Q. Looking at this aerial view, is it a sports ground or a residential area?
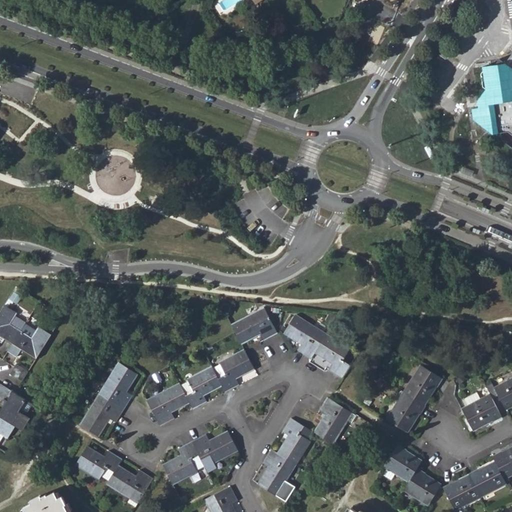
residential area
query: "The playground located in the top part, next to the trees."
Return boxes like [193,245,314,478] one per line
[90,150,142,209]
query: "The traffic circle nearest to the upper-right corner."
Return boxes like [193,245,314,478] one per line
[306,128,382,206]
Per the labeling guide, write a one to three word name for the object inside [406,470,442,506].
house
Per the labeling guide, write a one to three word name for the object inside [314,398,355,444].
house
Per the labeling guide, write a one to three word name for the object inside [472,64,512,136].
building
